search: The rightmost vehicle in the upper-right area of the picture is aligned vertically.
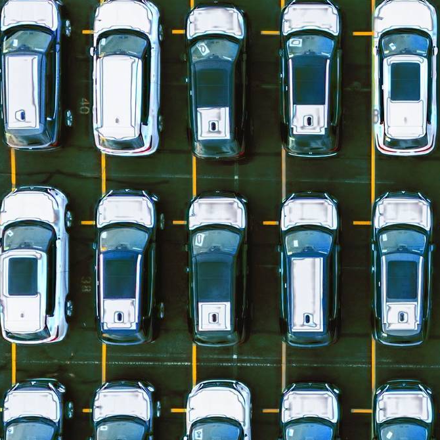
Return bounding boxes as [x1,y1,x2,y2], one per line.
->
[372,0,438,155]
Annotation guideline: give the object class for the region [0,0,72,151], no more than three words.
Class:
car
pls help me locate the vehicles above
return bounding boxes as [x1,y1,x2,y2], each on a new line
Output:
[0,0,72,151]
[0,187,73,345]
[88,381,160,440]
[370,190,436,348]
[372,0,438,155]
[0,379,72,440]
[183,2,252,160]
[276,382,343,440]
[371,381,437,440]
[184,190,253,347]
[277,0,344,156]
[91,0,165,155]
[92,189,164,346]
[183,381,252,440]
[276,190,343,348]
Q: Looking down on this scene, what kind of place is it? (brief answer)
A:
parking lot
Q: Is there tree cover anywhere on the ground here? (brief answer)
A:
No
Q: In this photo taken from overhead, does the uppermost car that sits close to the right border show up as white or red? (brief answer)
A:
white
